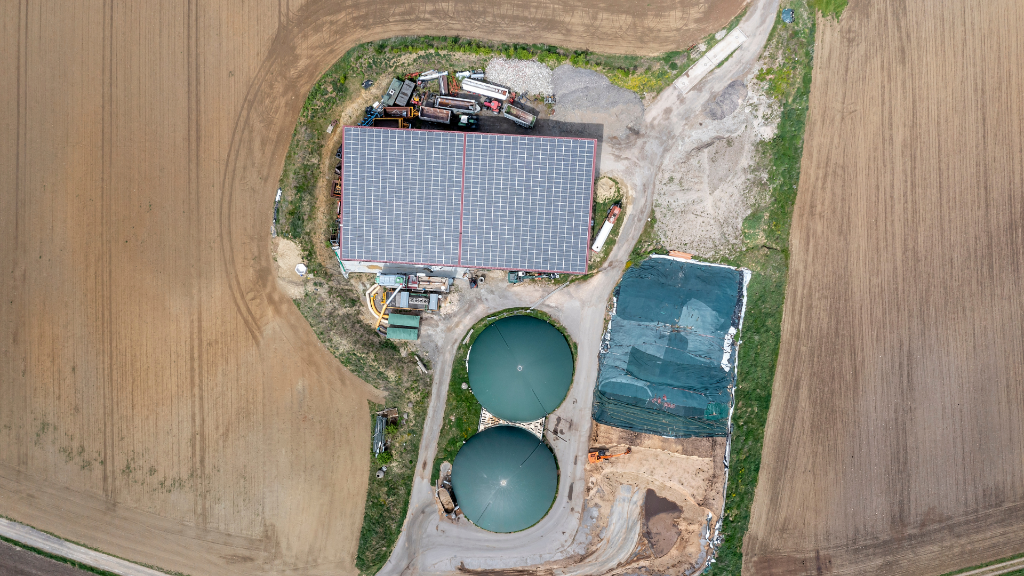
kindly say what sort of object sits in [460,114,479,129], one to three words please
work vehicle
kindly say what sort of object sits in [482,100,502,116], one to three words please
work vehicle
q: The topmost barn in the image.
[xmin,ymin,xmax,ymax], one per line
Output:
[340,126,597,275]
